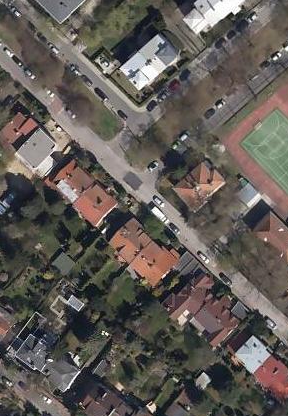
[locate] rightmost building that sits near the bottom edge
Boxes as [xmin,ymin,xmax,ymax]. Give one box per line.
[252,355,288,399]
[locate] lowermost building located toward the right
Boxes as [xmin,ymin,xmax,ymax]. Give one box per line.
[165,392,190,416]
